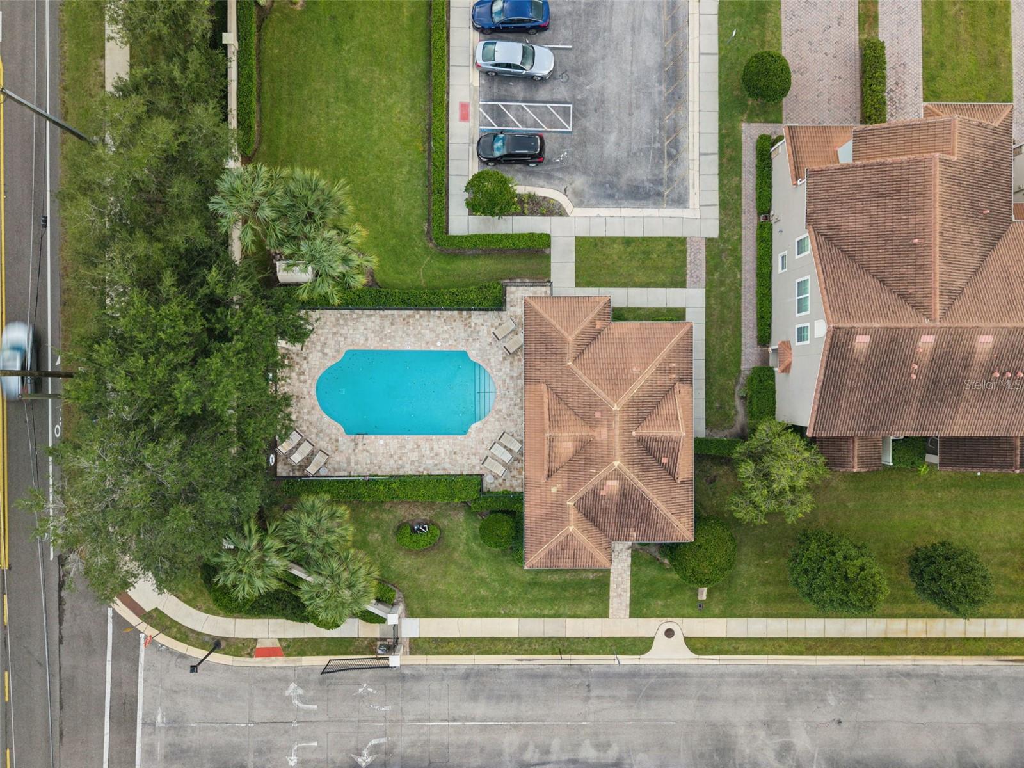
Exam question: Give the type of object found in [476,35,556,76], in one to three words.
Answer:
car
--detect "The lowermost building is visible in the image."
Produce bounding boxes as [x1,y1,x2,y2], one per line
[522,294,696,570]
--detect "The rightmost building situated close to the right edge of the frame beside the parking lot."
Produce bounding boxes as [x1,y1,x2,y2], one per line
[767,101,1024,476]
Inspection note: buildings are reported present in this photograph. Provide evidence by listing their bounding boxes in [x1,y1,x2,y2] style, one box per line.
[767,101,1024,476]
[522,294,696,570]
